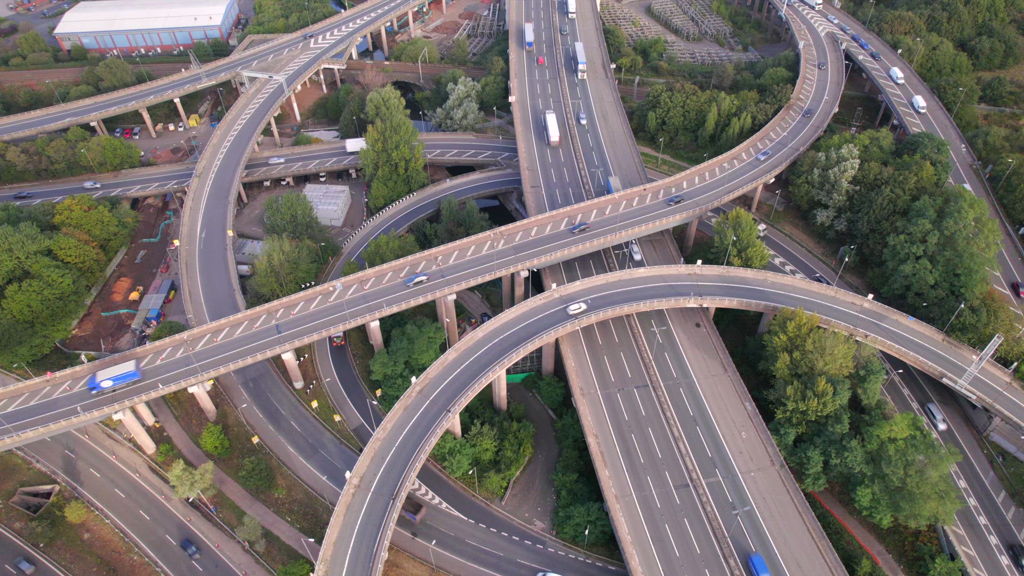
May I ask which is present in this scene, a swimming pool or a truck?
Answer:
truck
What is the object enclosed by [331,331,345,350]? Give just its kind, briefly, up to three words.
vehicle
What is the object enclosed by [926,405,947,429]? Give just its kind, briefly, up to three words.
car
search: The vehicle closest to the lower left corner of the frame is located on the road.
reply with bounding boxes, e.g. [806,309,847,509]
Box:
[13,555,36,573]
